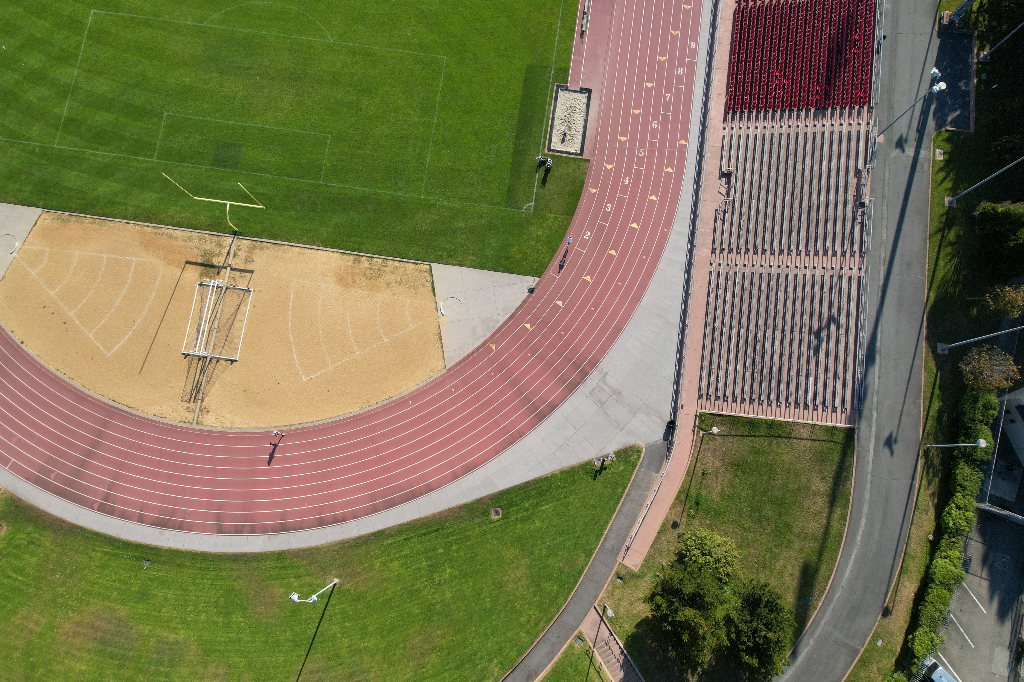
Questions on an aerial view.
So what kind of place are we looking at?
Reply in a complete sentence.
The area seen from above is a sports ground.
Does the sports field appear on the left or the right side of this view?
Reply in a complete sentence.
You can find the sports field on the left side of the picture.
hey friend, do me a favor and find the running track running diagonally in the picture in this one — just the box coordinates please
[0,0,704,536]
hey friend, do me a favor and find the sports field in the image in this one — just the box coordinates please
[0,0,590,278]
